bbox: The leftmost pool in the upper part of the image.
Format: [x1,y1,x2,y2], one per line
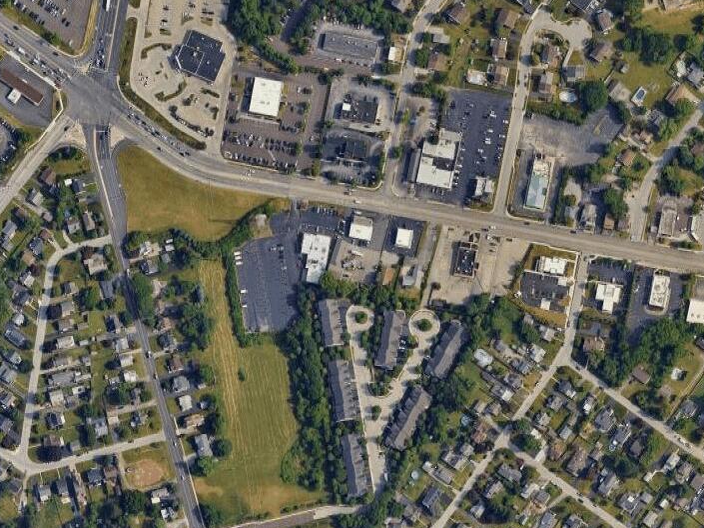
[559,88,577,104]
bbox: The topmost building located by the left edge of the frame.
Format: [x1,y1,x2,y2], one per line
[0,66,43,106]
